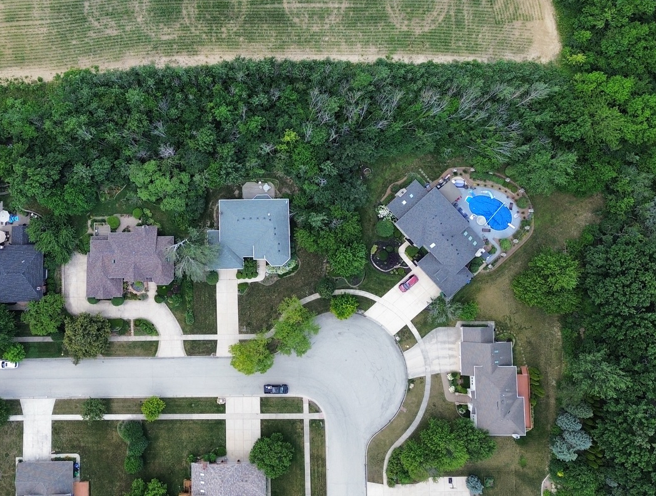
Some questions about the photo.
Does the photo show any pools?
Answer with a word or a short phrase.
Yes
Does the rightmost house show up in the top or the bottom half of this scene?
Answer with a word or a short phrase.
bottom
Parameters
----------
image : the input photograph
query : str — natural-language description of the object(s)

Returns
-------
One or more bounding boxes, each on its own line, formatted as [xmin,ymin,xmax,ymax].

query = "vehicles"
[398,273,419,292]
[264,383,289,395]
[0,360,19,369]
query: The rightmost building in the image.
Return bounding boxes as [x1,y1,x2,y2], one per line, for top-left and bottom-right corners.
[457,325,526,439]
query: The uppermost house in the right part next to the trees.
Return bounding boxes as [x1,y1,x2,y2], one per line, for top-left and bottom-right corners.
[385,179,486,297]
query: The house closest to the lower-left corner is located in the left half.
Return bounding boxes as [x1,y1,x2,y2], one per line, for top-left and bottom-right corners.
[15,455,76,496]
